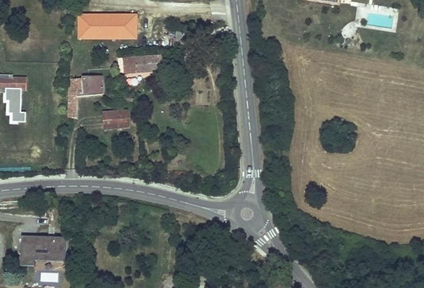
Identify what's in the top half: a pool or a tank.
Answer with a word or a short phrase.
pool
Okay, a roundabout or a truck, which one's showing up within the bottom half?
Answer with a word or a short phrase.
roundabout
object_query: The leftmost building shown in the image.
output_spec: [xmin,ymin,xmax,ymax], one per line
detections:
[0,76,26,126]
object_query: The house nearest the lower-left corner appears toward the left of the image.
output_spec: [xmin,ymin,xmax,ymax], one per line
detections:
[20,235,66,266]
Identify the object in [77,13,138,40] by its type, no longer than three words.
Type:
building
